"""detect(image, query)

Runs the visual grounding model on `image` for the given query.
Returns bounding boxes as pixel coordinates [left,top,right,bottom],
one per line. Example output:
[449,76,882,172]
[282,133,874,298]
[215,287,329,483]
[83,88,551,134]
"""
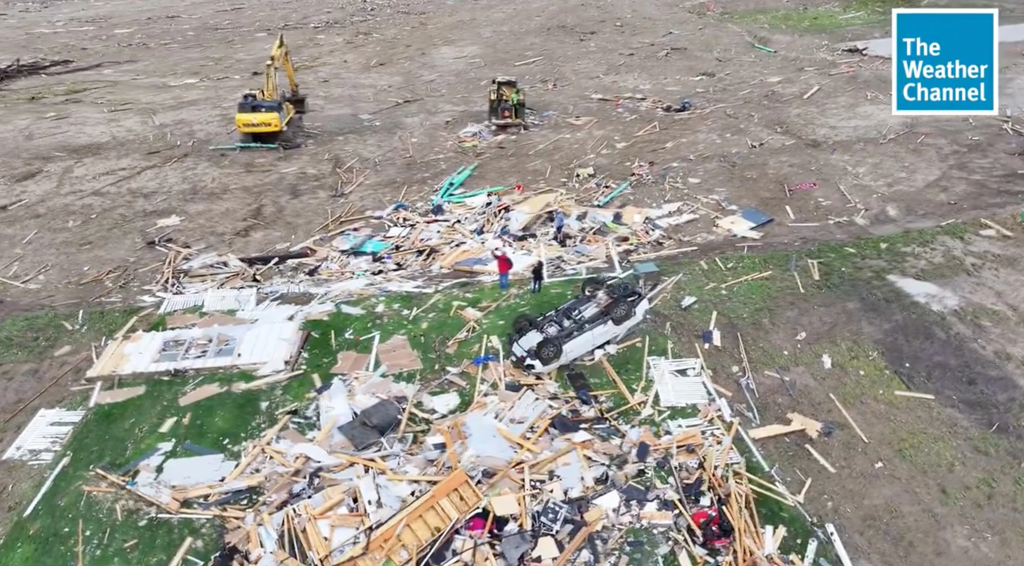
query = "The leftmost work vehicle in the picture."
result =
[235,30,312,141]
